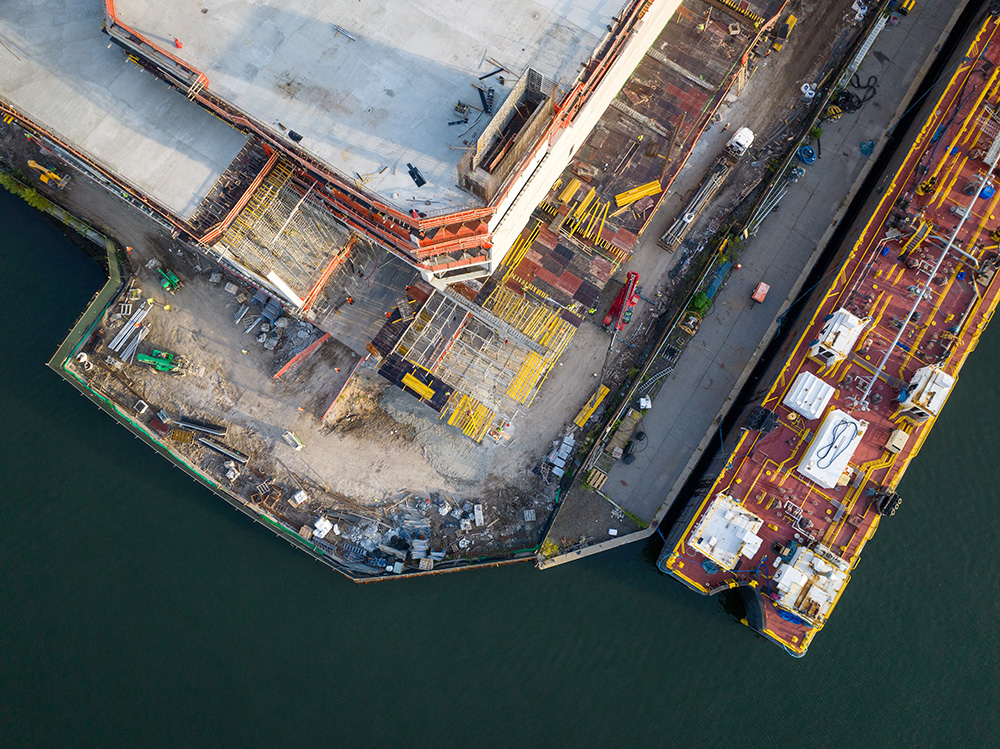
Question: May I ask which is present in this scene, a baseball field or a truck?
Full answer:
Of the two, only a truck appears.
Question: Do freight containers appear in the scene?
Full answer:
Yes, you can see a freight container in this photo.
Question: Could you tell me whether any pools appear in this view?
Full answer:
No, the picture doesn't show any pool.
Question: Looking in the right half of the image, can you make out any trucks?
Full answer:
Yes, looking in the right half of the image, one can make out a truck.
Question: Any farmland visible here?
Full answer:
No, the scene doesn't show any farmland.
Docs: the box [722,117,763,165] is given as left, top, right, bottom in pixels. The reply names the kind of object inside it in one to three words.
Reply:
truck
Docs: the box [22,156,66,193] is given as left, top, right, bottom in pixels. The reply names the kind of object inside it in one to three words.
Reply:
work vehicle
